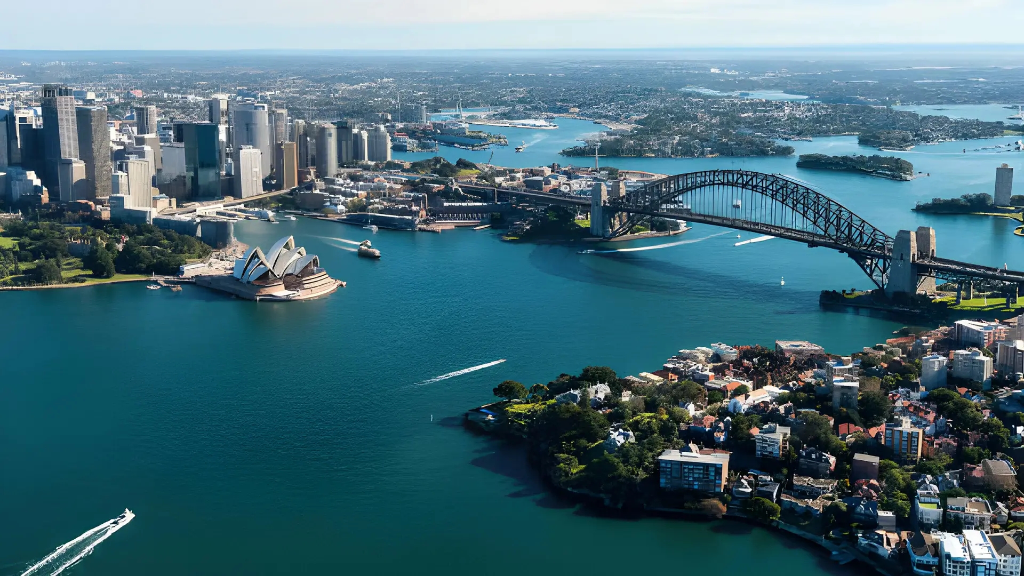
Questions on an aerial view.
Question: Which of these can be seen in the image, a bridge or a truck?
bridge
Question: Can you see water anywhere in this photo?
Yes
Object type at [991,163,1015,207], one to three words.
building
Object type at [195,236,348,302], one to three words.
building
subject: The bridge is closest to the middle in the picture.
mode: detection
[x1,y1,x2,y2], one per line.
[432,181,591,226]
